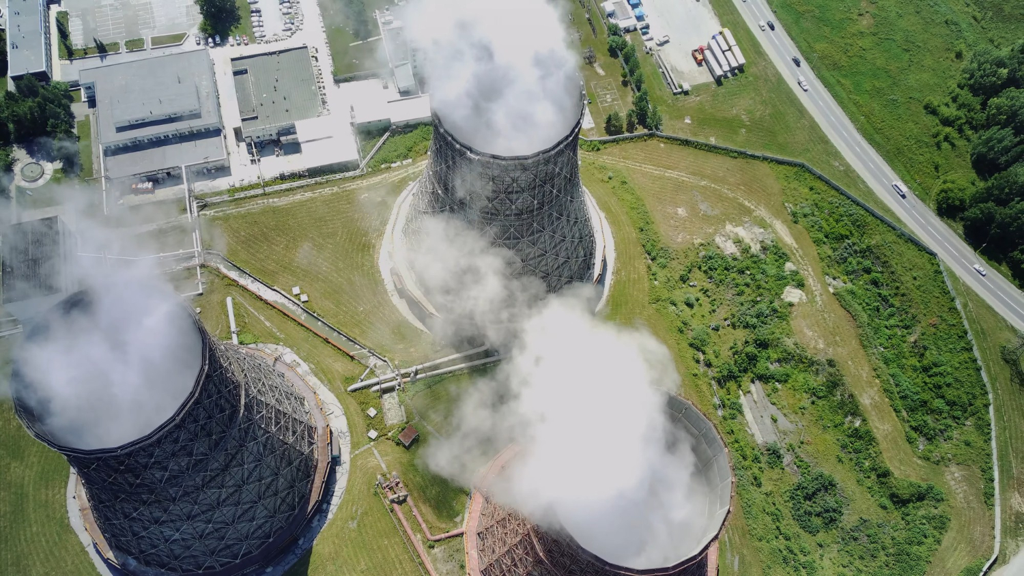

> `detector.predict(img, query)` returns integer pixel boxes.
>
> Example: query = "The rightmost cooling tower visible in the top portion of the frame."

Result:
[394,37,604,340]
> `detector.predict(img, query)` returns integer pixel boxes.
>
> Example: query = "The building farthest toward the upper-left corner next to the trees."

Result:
[6,0,52,86]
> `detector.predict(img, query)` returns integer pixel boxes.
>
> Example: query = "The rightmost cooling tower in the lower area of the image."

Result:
[466,379,738,576]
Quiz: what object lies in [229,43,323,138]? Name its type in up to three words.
building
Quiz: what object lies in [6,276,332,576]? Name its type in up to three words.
cooling tower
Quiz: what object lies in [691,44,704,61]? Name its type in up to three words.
vehicle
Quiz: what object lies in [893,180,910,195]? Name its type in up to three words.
vehicle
